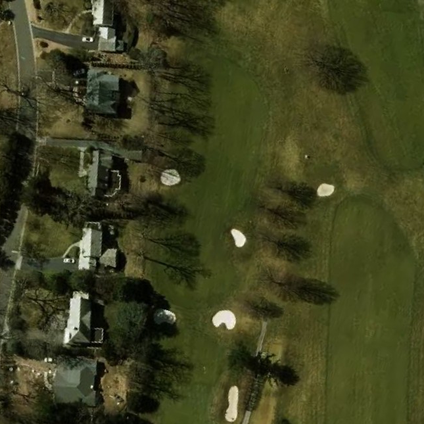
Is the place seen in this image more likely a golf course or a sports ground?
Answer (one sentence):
The area seen from above is a golf course.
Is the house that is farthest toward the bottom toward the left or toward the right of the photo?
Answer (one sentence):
The house that is farthest toward the bottom appears in the left half of the scene.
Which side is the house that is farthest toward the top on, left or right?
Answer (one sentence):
You can find the house that is farthest toward the top on the left side of the picture.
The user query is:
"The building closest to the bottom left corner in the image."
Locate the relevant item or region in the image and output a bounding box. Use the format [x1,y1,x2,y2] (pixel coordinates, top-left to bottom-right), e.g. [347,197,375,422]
[54,357,99,407]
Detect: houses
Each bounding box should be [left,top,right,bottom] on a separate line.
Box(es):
[54,357,99,407]
[92,0,124,51]
[88,149,121,196]
[87,68,119,116]
[80,222,117,270]
[64,292,104,345]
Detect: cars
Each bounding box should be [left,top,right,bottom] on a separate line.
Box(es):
[82,37,93,42]
[64,258,75,263]
[74,69,84,76]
